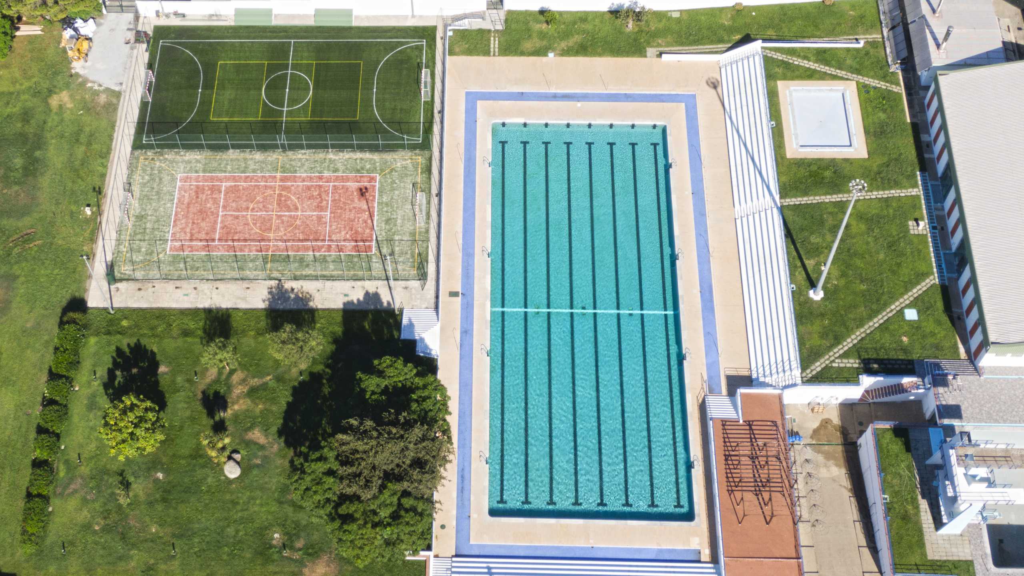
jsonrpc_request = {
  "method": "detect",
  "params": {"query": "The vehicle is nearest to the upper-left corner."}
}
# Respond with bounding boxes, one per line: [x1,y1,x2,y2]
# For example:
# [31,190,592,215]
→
[64,31,92,59]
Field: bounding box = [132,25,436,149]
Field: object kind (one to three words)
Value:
sports court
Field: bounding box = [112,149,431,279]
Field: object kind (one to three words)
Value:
tennis court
